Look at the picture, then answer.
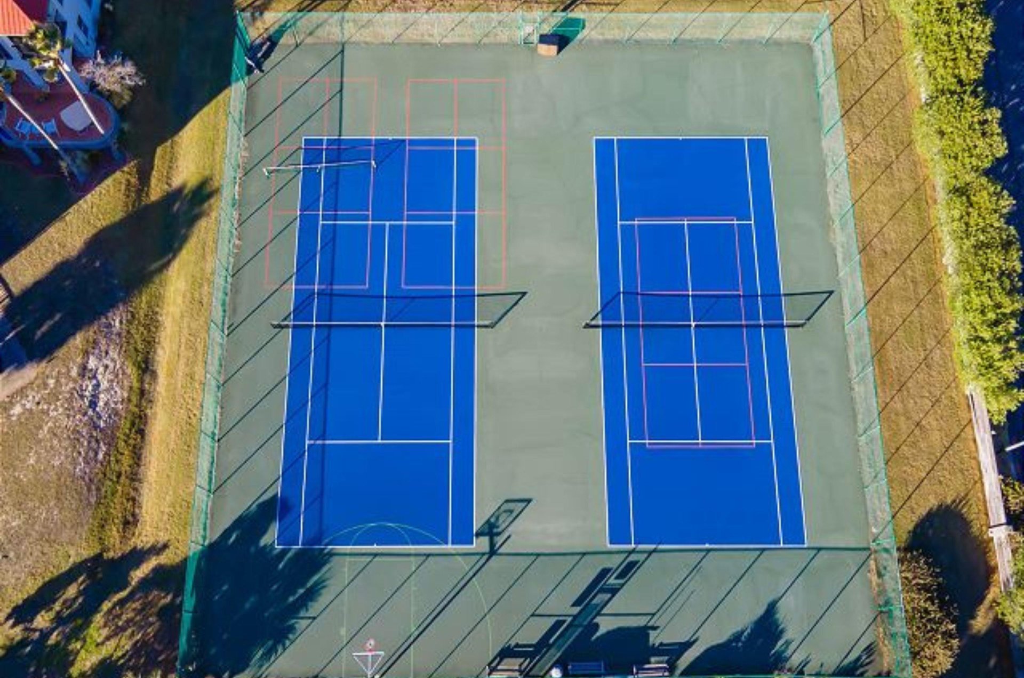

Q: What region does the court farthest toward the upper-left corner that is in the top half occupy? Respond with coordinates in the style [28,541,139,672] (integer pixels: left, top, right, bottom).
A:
[264,78,377,288]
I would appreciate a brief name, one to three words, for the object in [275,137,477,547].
tennis court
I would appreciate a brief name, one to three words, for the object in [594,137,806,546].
tennis court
